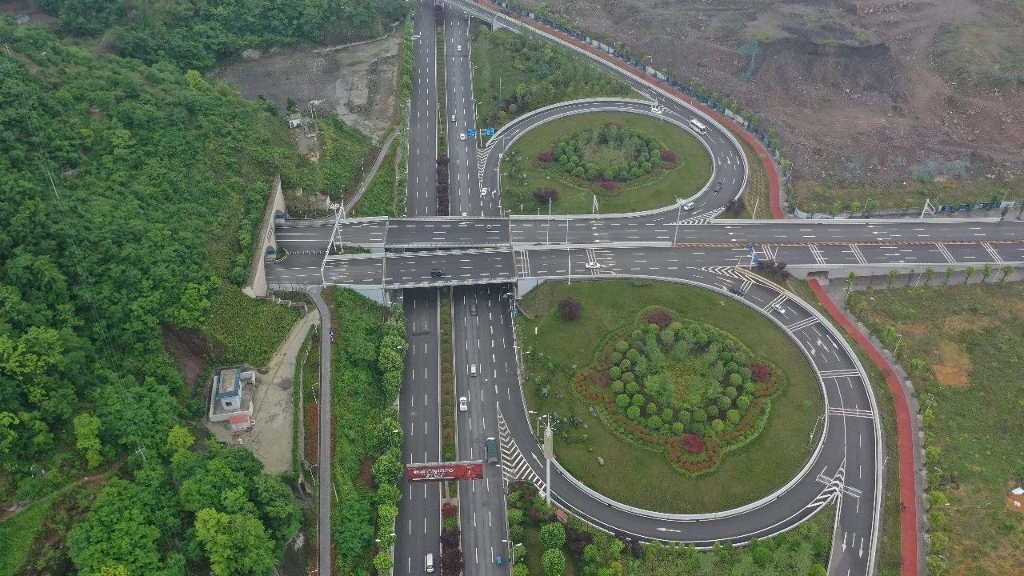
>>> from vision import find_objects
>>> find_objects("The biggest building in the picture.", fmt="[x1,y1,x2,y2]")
[214,370,246,414]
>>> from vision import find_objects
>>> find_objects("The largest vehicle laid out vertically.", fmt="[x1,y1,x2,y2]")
[486,434,498,466]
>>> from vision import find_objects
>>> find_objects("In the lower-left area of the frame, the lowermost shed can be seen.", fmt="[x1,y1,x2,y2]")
[229,413,251,432]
